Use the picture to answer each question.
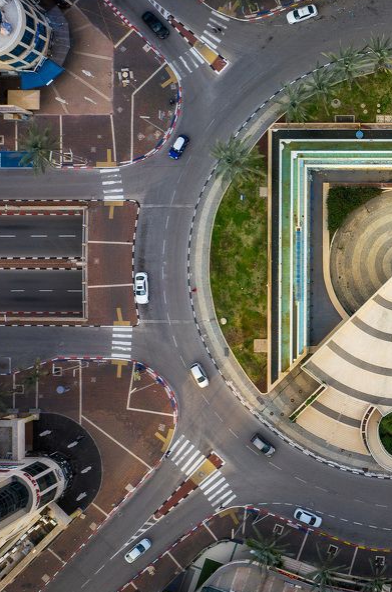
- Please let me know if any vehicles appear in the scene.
Yes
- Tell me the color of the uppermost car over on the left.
black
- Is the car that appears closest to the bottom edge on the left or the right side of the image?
left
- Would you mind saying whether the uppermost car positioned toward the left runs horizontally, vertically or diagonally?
diagonally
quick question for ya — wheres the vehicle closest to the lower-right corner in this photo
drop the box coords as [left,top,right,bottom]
[292,509,322,529]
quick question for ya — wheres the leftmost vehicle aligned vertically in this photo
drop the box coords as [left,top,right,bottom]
[133,273,148,303]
